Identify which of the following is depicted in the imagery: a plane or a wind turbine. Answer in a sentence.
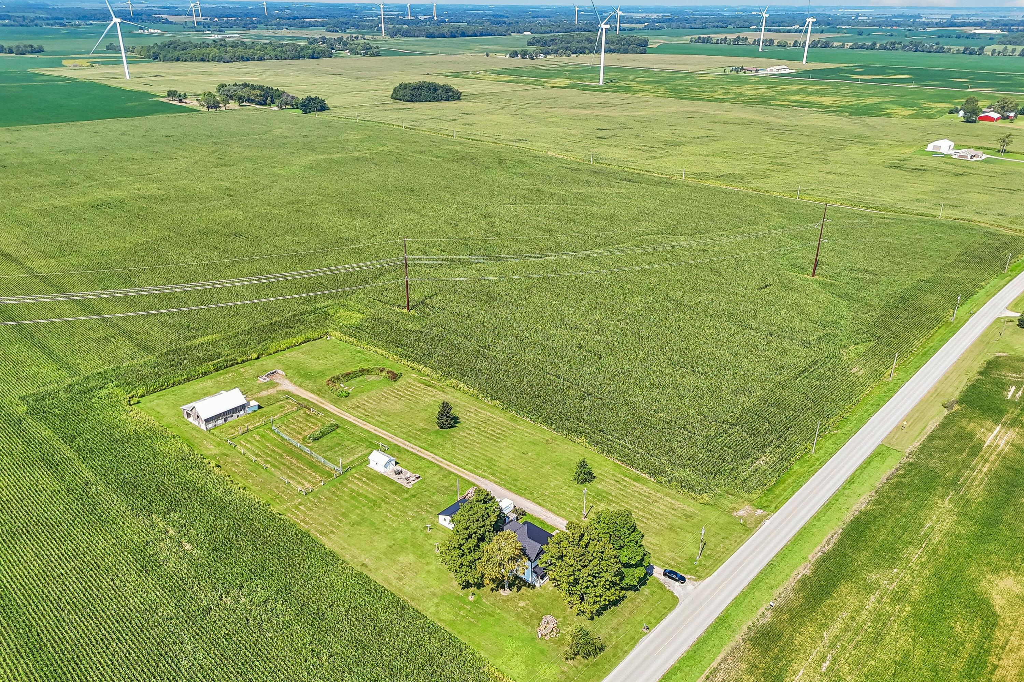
Visible in the photo is a wind turbine.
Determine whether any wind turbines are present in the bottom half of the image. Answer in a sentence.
No, no wind turbine is visible in the bottom half of the image.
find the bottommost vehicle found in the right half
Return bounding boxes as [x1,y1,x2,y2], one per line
[665,570,686,584]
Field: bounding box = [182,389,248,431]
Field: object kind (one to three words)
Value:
barn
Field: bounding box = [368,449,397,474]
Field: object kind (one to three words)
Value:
shed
